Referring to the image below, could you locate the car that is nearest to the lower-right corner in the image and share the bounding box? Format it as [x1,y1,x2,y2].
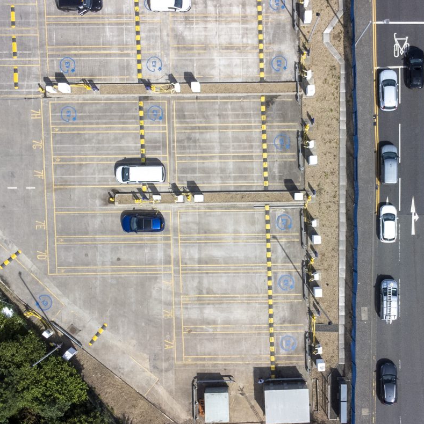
[377,362,399,405]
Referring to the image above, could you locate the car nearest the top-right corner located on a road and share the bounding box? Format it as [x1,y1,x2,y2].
[404,47,424,91]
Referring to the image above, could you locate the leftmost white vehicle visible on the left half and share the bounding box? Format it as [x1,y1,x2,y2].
[116,164,165,187]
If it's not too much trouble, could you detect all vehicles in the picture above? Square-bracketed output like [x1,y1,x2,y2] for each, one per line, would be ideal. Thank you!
[377,362,399,405]
[377,202,399,244]
[146,0,189,13]
[378,276,400,321]
[404,47,424,91]
[122,213,165,234]
[55,0,103,17]
[378,143,400,187]
[378,70,400,114]
[116,164,165,187]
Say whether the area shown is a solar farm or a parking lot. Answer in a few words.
parking lot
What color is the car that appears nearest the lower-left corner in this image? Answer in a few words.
blue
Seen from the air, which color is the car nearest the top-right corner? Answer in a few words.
black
